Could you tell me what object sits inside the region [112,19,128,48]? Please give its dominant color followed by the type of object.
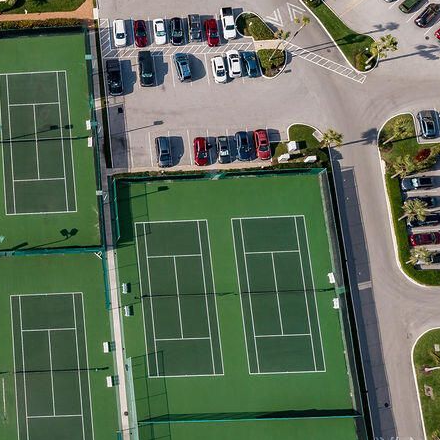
white car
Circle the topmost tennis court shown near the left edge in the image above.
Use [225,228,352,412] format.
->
[0,34,101,253]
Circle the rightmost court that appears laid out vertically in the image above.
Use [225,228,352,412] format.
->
[215,174,355,421]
